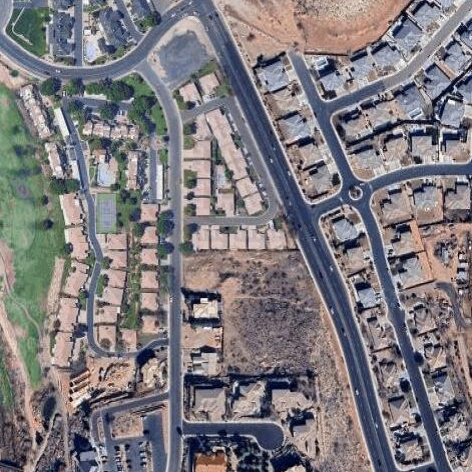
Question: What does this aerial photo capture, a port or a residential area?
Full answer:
This image shows a residential area.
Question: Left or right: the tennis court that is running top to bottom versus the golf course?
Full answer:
The tennis court that is running top to bottom appears to the right of the golf course in this view.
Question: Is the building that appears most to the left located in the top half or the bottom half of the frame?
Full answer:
The building that appears most to the left is in the top half of the image.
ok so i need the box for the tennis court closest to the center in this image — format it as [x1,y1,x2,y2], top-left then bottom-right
[97,191,117,234]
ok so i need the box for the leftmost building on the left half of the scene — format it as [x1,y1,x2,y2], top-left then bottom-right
[19,84,52,140]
